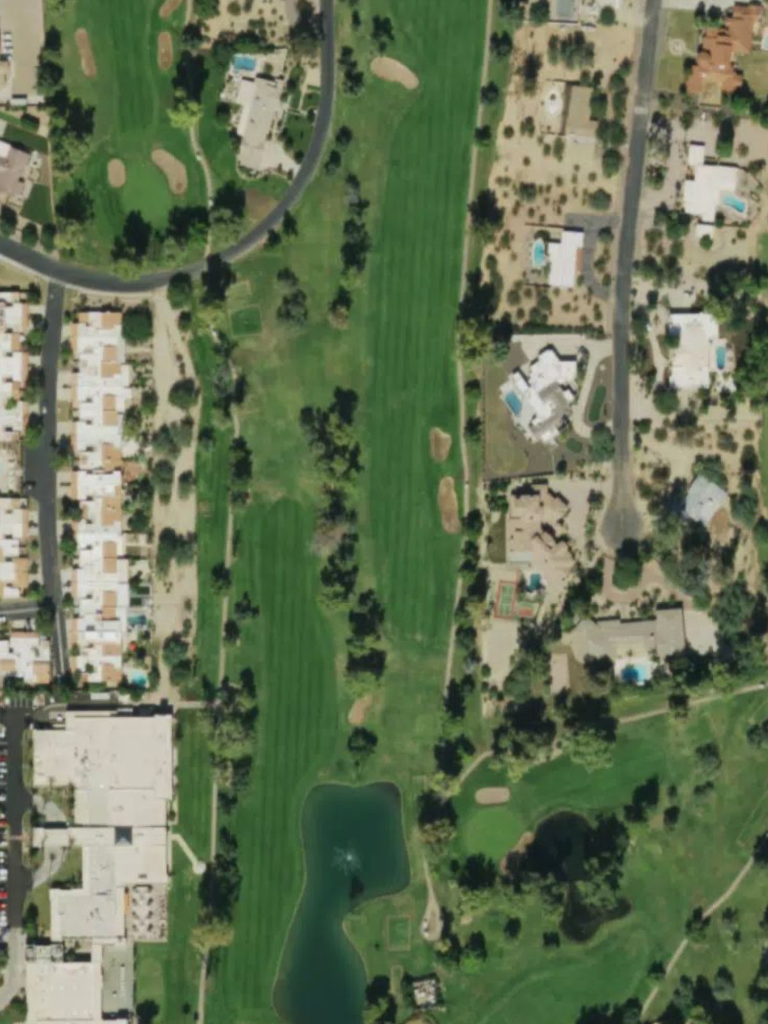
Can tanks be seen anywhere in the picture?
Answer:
No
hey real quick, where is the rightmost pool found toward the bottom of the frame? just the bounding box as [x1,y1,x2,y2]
[621,665,646,681]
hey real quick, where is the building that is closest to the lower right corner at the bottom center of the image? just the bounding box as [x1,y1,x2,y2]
[414,981,437,1006]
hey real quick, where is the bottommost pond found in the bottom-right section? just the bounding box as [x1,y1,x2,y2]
[525,810,632,943]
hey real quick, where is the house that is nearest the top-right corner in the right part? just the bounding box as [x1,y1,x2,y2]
[686,5,762,93]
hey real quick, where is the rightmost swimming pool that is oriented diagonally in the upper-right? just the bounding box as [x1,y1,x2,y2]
[723,194,746,213]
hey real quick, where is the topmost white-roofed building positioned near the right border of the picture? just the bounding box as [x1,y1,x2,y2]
[684,144,738,221]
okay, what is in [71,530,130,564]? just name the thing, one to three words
house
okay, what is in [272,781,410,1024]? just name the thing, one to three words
pond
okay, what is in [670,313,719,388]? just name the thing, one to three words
house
